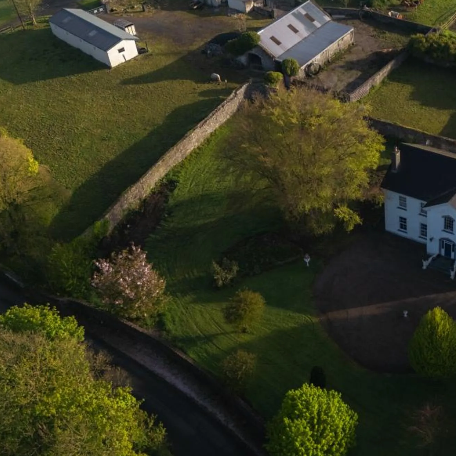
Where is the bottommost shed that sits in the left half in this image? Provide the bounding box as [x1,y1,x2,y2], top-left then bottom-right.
[43,13,142,68]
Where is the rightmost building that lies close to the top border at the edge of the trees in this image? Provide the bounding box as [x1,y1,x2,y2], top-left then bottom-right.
[240,0,356,80]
